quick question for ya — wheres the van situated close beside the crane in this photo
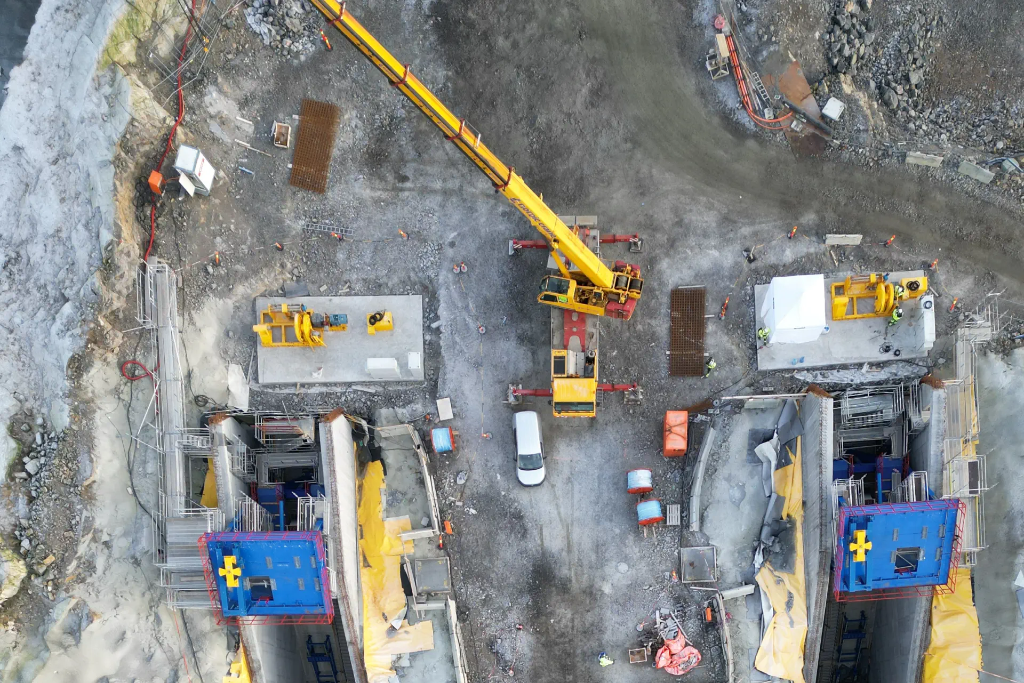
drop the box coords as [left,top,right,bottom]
[512,407,550,490]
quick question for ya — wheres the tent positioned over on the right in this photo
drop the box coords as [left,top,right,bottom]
[760,274,826,345]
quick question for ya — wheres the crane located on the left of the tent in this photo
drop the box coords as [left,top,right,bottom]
[304,0,647,418]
